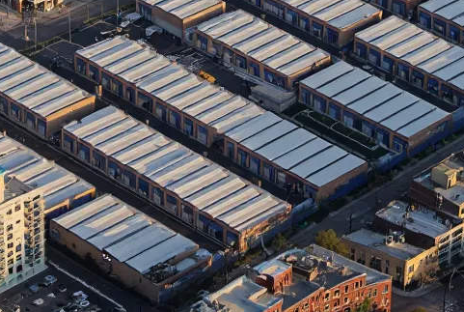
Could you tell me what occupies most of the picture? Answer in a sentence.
The largest share of the image is taken up by buildings.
